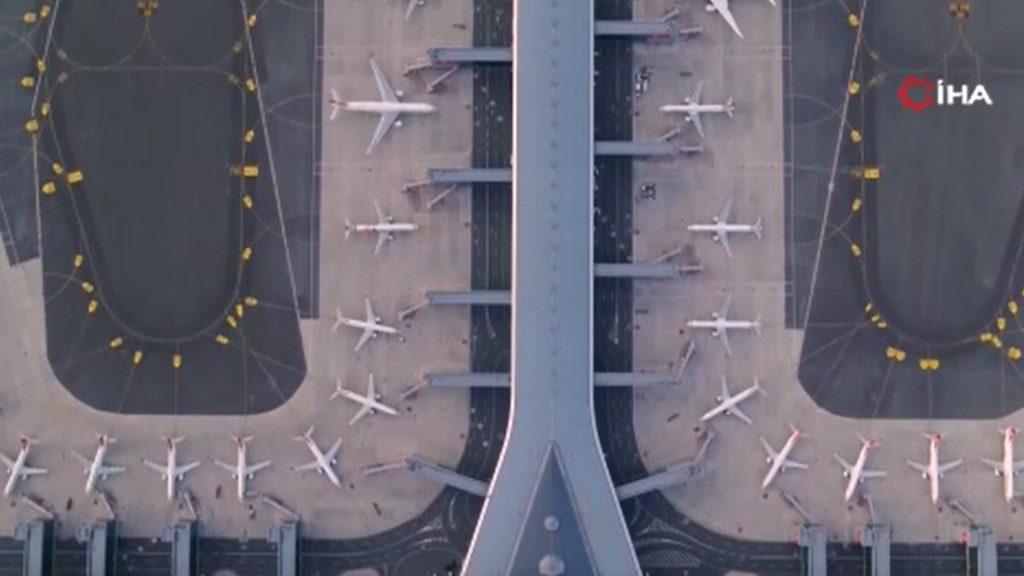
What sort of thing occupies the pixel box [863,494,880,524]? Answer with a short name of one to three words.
jet bridge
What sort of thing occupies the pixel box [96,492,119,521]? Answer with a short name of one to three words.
jet bridge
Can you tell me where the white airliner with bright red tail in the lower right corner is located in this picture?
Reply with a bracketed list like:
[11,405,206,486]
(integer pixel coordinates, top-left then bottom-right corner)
[980,428,1024,504]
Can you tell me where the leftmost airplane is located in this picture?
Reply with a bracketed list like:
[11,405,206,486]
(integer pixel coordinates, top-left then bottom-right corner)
[0,435,42,497]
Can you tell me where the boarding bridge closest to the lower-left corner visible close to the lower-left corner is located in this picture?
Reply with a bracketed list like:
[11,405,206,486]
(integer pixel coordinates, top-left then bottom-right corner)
[18,495,60,521]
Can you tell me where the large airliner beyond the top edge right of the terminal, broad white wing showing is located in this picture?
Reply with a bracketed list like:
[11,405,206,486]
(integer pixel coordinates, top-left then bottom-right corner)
[708,0,746,35]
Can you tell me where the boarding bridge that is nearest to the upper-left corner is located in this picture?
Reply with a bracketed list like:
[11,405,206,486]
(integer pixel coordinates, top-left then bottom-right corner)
[402,61,435,77]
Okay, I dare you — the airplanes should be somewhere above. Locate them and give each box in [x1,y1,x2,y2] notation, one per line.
[142,437,196,503]
[333,299,399,352]
[687,198,763,258]
[329,371,399,426]
[329,55,435,151]
[837,436,889,501]
[345,199,418,257]
[294,427,342,487]
[407,0,424,15]
[708,0,746,35]
[761,425,812,489]
[686,294,762,355]
[73,433,122,495]
[0,435,42,497]
[980,428,1024,504]
[659,76,736,137]
[700,374,769,426]
[214,436,268,503]
[907,433,965,504]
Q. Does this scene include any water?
No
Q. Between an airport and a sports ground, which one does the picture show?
airport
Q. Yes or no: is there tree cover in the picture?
No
